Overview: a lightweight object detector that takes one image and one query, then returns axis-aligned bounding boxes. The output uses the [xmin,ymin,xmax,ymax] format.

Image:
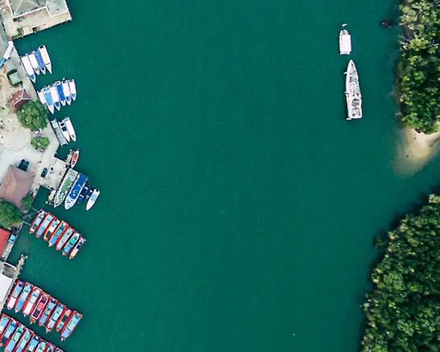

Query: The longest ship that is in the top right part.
[345,59,364,120]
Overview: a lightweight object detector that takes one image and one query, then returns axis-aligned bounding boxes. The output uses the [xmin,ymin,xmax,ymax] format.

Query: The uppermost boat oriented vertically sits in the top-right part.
[338,27,351,55]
